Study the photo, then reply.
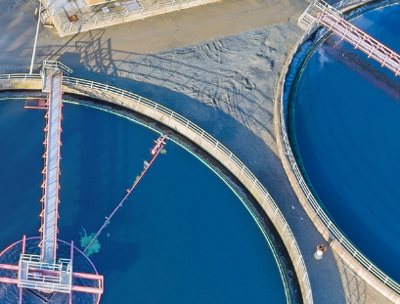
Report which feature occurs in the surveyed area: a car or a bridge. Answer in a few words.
bridge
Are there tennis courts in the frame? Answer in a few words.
No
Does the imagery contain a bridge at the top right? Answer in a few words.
Yes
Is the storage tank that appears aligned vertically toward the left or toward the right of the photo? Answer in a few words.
right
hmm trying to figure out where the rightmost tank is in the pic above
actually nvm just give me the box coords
[274,0,400,304]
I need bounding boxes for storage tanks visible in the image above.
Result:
[0,56,314,304]
[274,0,400,304]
